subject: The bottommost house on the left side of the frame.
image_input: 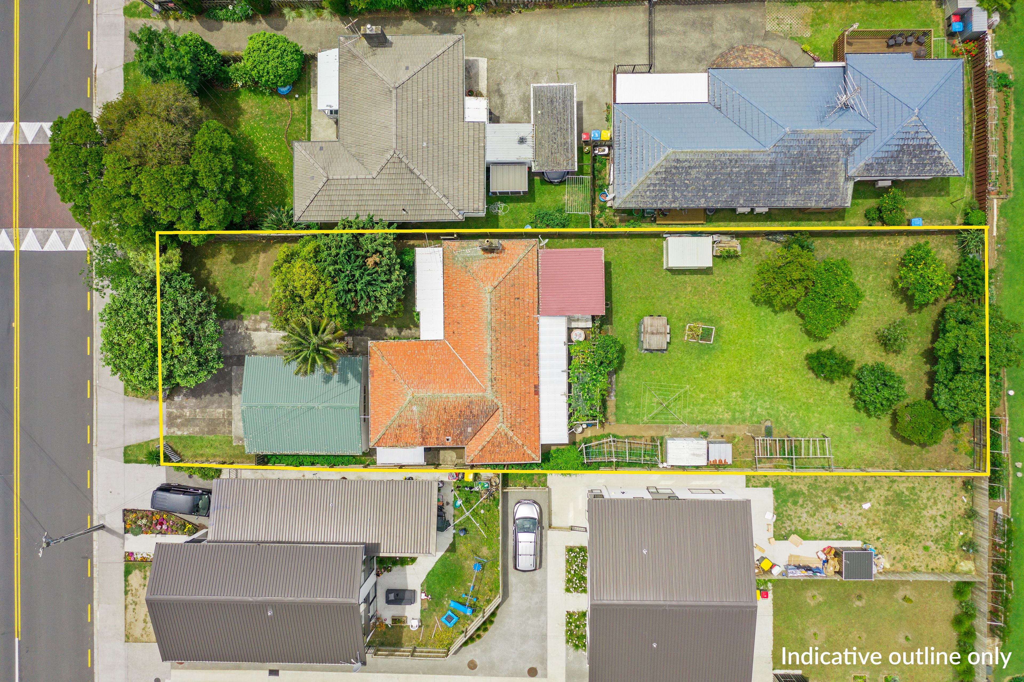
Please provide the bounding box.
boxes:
[145,478,440,666]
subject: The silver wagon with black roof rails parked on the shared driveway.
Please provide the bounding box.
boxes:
[510,499,543,572]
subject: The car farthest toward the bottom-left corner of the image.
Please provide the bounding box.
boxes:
[149,482,210,522]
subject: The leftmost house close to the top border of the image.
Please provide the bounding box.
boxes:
[292,23,489,223]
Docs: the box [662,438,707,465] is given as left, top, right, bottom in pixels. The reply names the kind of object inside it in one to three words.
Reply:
shed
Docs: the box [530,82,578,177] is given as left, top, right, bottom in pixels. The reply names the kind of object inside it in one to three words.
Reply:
building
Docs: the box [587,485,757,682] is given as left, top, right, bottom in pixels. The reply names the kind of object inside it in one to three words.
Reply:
house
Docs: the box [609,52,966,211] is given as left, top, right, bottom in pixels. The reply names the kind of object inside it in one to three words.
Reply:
house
